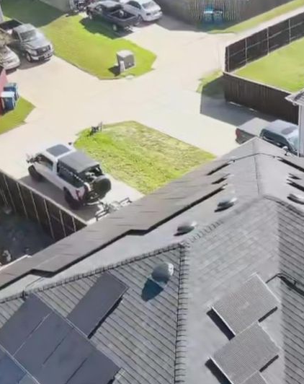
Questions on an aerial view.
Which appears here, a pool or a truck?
truck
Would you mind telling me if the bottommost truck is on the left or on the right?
left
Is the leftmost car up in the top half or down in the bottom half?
top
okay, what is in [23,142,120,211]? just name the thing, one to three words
truck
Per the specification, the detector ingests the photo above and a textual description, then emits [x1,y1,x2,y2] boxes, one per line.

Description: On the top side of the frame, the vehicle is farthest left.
[0,34,24,68]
